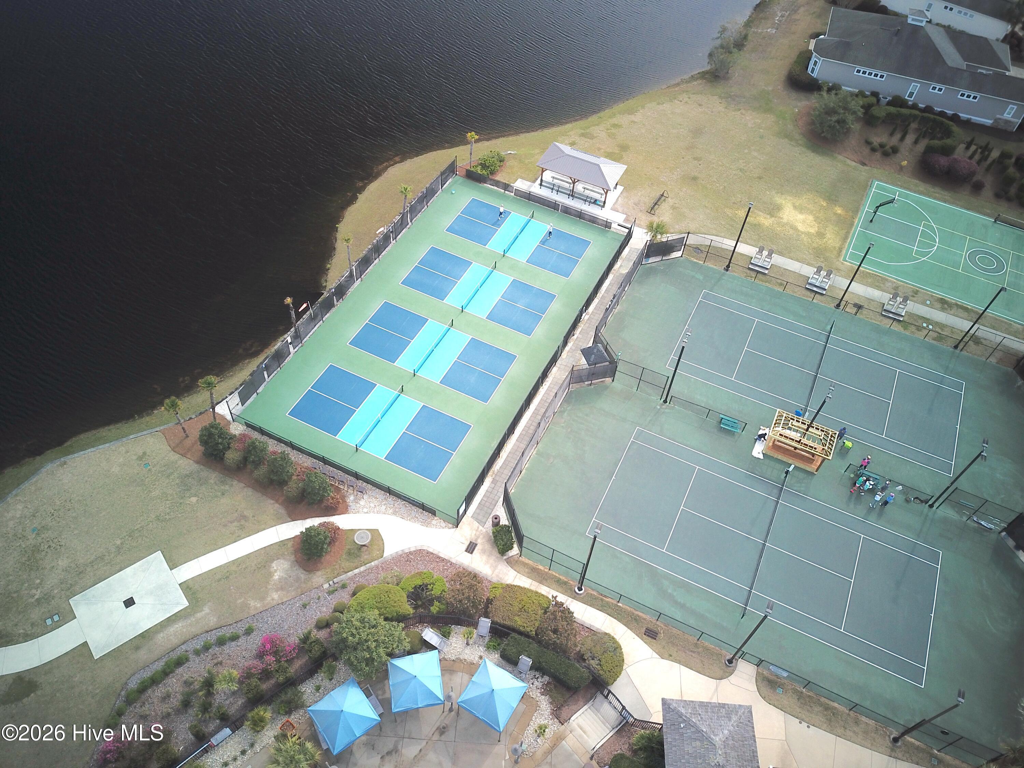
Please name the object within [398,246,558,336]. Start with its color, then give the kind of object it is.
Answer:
blue sports court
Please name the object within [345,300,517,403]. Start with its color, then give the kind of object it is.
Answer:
blue sports court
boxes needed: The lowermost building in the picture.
[660,696,761,768]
